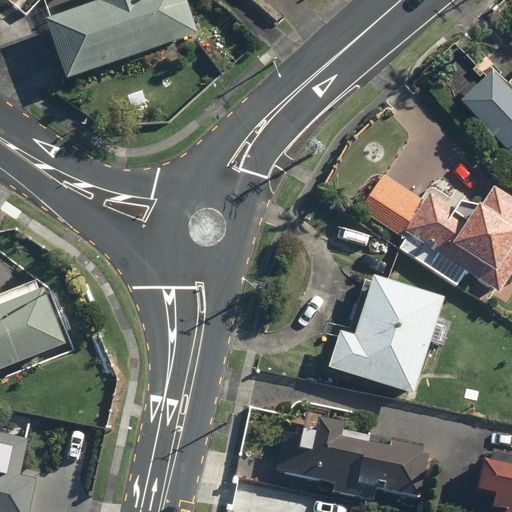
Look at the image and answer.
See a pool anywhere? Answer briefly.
No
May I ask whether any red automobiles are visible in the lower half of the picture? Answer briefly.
No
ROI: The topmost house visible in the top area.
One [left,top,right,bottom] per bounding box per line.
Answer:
[46,0,198,79]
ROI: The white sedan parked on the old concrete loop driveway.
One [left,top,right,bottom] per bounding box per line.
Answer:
[298,296,324,326]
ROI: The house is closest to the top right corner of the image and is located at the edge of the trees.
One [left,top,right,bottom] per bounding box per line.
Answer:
[460,69,512,152]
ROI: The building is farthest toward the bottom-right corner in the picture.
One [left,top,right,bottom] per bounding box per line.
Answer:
[478,452,512,510]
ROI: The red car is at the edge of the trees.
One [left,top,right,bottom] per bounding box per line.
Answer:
[454,163,476,188]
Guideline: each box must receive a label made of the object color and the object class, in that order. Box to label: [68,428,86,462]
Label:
white vehicle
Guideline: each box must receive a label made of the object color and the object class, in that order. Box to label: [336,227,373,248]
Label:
white vehicle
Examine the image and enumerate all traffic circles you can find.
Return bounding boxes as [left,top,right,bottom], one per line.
[188,208,226,246]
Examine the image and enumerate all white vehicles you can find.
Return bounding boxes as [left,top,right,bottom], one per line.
[492,433,512,446]
[336,227,373,248]
[298,296,324,326]
[313,500,346,512]
[68,428,86,462]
